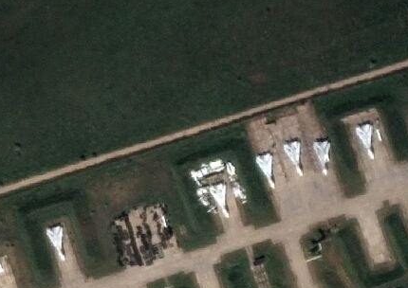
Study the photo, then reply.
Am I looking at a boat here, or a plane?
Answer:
plane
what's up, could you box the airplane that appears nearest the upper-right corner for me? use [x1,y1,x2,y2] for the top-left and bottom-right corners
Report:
[357,123,374,159]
